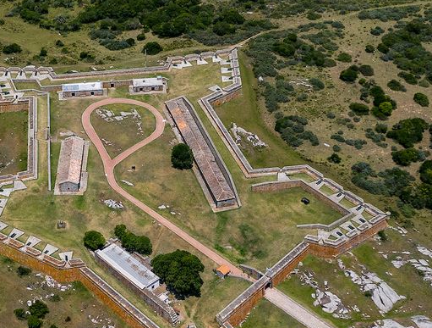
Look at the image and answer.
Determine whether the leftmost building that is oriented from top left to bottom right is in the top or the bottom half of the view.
bottom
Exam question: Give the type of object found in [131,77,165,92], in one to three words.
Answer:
shed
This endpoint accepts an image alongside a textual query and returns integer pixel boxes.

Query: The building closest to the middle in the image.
[165,98,236,207]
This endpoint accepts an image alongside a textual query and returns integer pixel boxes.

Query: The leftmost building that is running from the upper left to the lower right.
[96,243,157,290]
